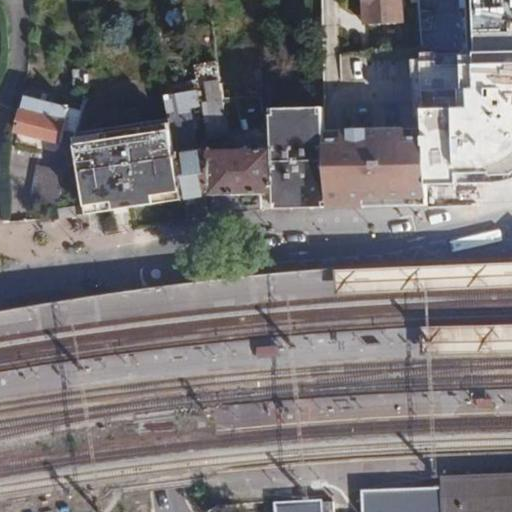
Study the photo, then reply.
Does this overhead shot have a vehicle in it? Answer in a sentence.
Yes, looking at the shot, I can spot a vehicle.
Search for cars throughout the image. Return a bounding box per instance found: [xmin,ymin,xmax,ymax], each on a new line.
[263,236,284,246]
[428,211,451,223]
[390,220,412,230]
[352,60,363,80]
[159,488,170,510]
[284,232,306,244]
[55,504,77,512]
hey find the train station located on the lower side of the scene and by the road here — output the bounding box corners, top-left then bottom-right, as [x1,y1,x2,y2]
[0,262,512,506]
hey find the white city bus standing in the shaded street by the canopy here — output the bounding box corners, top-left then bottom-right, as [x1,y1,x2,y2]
[448,228,506,252]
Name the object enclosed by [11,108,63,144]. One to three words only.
house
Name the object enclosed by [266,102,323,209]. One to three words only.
building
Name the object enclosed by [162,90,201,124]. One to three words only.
shed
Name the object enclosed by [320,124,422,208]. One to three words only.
house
